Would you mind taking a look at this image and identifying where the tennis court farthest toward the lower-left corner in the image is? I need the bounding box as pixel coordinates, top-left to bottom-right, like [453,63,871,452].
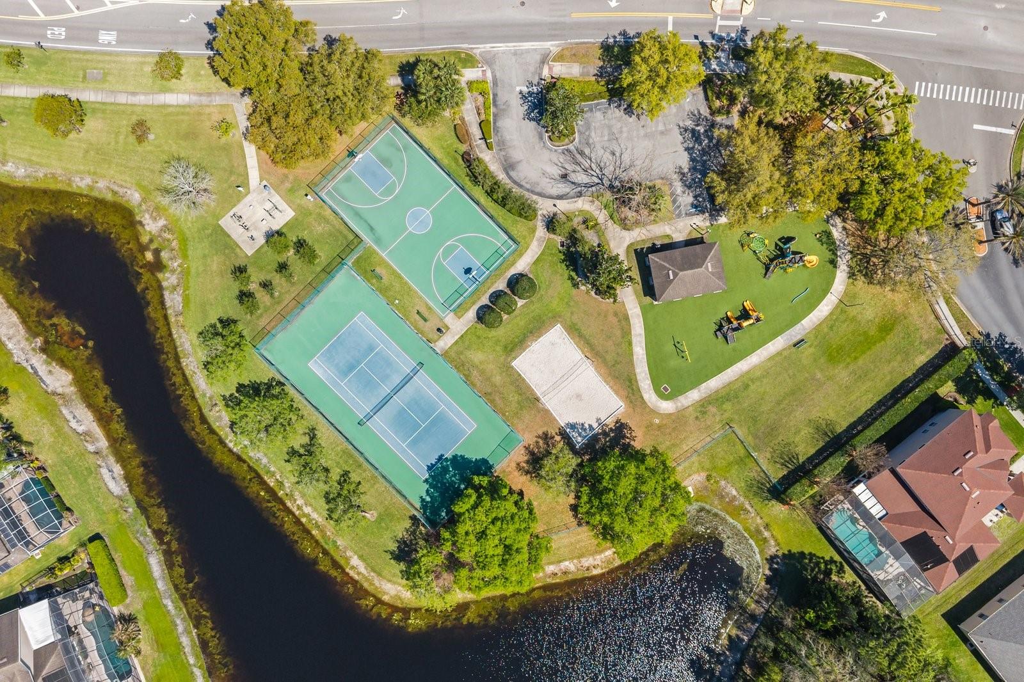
[258,263,523,530]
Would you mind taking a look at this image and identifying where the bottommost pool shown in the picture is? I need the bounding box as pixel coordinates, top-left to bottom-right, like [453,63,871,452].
[58,584,139,682]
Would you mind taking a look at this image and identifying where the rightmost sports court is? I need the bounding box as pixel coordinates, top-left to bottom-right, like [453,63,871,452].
[512,324,624,447]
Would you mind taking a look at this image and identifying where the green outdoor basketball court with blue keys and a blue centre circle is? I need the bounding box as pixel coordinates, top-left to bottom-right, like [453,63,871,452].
[315,116,520,316]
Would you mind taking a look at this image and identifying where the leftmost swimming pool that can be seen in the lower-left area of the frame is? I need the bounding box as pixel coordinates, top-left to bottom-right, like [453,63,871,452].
[0,466,73,547]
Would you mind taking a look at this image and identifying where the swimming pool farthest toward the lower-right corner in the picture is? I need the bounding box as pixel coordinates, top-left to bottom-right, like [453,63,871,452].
[826,499,935,606]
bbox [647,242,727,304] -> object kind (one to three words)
building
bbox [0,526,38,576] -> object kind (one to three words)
house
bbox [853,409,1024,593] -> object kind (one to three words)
house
